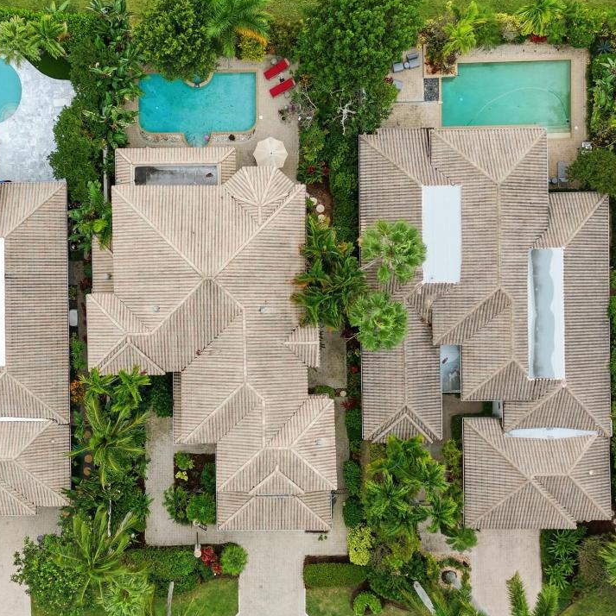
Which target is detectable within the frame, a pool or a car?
pool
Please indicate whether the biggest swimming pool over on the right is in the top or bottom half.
top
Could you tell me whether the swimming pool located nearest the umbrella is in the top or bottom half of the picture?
top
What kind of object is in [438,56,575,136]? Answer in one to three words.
swimming pool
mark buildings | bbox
[85,146,339,531]
[0,181,73,516]
[358,127,614,530]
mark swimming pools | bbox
[136,68,260,147]
[0,58,26,126]
[438,56,575,136]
